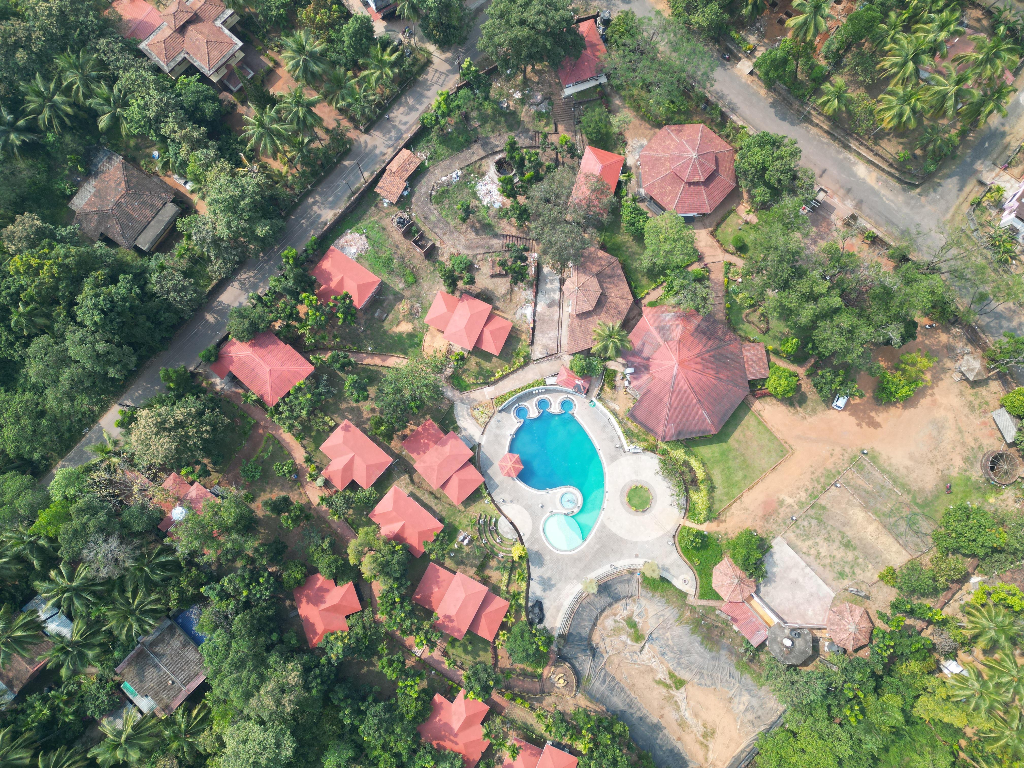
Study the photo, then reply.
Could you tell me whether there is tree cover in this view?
Yes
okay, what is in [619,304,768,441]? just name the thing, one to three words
building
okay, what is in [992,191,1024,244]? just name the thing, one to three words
house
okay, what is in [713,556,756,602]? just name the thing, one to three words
gazebo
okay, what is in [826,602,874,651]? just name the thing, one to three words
gazebo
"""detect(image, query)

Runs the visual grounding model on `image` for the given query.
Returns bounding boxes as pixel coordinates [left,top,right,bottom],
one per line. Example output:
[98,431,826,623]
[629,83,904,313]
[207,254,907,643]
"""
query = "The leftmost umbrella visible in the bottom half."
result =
[499,453,522,478]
